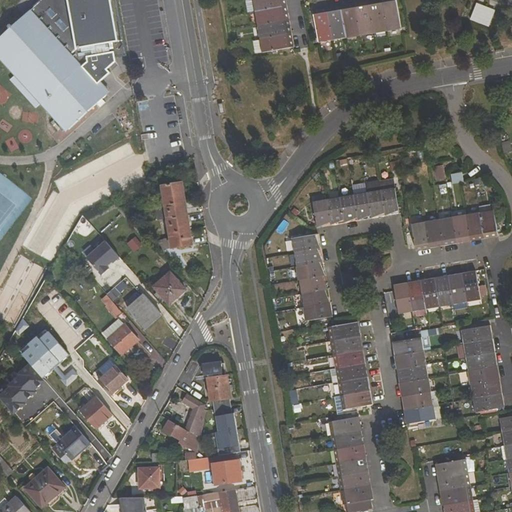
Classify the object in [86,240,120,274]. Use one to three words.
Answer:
house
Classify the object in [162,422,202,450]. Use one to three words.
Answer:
house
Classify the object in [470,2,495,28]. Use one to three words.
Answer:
building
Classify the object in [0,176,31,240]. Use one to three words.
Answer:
tennis court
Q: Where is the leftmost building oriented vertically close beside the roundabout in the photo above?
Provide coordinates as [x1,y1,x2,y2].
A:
[160,180,194,250]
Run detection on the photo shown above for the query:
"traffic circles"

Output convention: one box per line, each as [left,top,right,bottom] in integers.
[208,175,268,234]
